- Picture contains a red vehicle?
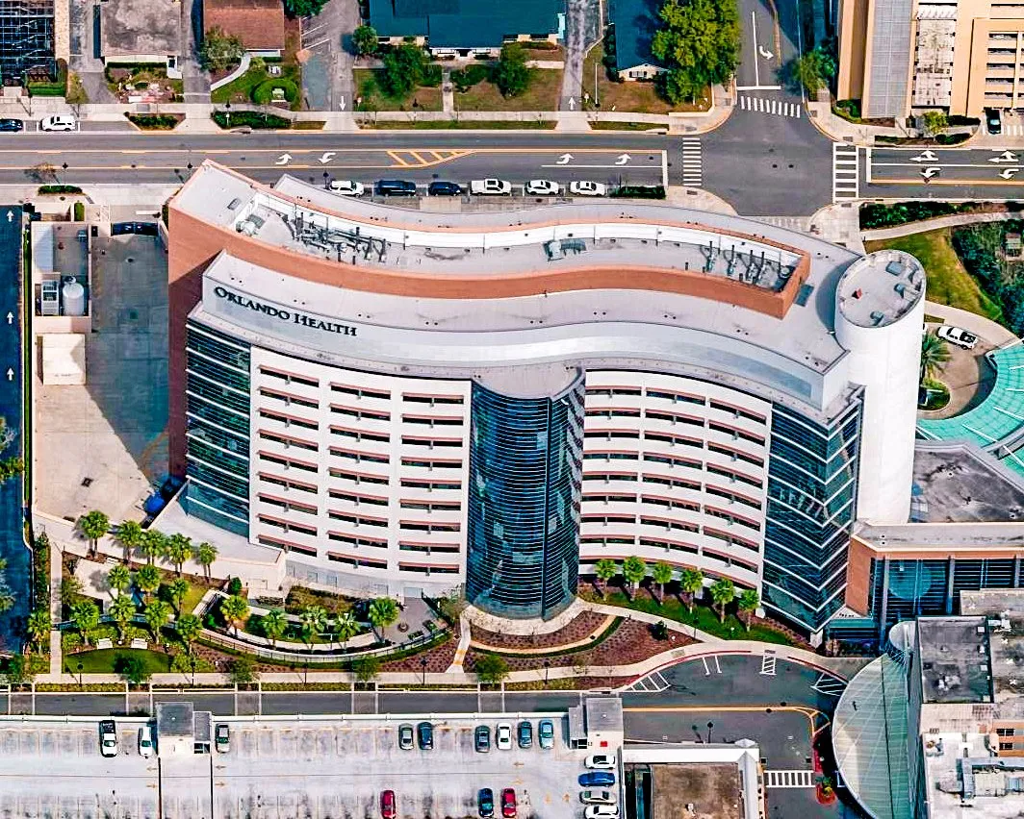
Yes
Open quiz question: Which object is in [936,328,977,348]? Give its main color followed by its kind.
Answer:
white vehicle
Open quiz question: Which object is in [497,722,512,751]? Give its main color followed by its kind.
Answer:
white car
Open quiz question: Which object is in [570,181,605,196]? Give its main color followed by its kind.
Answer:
white car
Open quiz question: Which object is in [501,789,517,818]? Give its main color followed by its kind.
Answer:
red car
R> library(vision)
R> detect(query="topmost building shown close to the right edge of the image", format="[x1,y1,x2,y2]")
[851,0,1024,117]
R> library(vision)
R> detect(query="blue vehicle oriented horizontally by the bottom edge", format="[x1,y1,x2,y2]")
[578,770,616,788]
